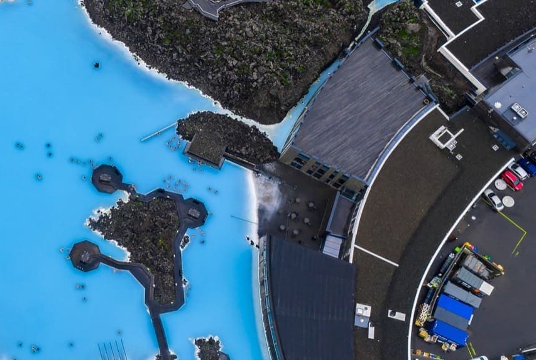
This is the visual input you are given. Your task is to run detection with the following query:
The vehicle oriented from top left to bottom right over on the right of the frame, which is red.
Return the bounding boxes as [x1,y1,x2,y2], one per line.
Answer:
[499,171,522,192]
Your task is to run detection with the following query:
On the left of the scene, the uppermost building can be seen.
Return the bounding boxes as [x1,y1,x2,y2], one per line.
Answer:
[184,129,225,165]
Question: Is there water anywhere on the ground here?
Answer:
Yes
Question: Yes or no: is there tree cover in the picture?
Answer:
No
